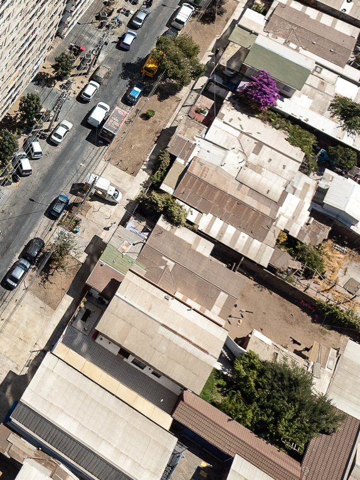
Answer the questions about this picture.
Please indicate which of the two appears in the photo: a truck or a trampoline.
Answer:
truck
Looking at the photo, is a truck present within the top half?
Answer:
Yes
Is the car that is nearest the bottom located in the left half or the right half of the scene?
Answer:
left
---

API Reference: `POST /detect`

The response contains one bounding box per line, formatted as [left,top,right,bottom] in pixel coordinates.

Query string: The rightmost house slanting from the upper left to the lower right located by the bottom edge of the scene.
[169,388,304,480]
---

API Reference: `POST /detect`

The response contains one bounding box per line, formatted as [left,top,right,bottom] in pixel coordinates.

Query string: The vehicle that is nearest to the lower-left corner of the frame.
[4,259,32,289]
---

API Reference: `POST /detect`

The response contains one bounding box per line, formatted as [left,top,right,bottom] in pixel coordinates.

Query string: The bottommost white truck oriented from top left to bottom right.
[86,171,126,208]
